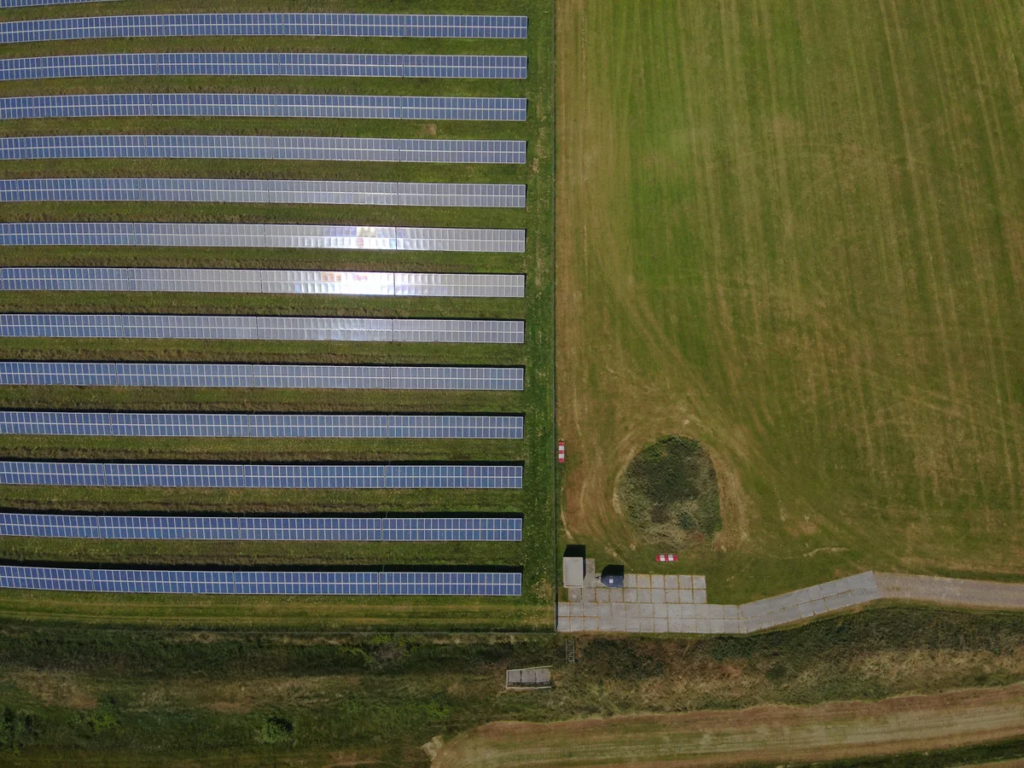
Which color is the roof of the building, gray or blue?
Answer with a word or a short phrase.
gray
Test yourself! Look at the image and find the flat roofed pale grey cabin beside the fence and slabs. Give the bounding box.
[562,557,583,587]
